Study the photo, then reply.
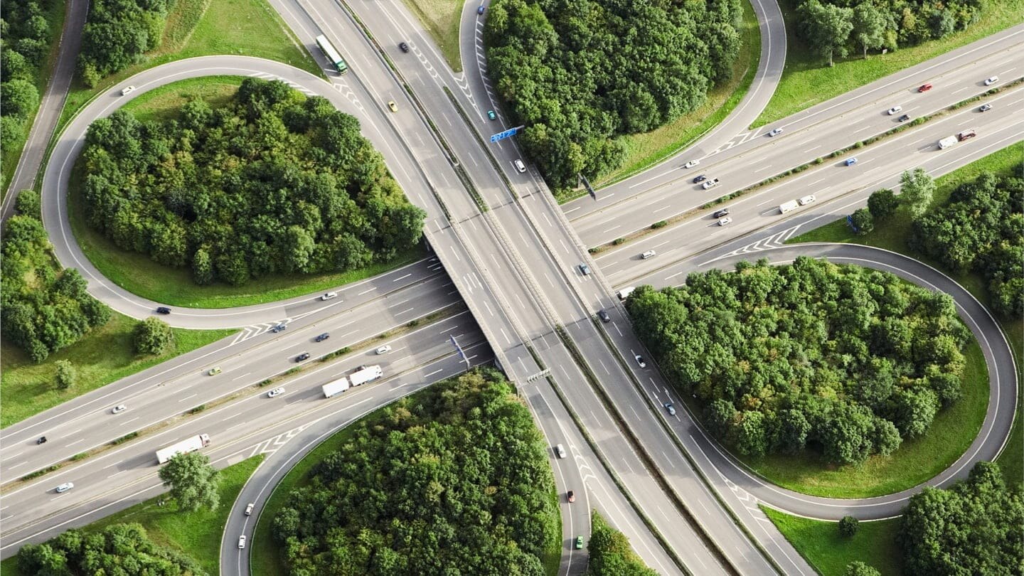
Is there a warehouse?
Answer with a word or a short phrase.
No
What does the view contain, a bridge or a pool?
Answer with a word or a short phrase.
bridge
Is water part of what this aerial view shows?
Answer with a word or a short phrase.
No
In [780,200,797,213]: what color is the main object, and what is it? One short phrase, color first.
white vehicle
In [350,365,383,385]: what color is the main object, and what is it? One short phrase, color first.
white vehicle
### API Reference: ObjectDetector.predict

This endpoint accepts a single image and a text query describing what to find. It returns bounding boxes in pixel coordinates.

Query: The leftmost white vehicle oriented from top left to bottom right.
[317,35,346,73]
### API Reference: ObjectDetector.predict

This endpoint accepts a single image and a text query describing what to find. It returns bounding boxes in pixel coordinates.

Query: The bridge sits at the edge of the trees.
[423,165,642,382]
